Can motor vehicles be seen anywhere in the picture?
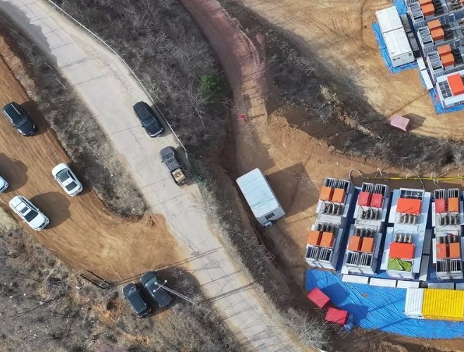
Yes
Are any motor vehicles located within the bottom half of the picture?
Yes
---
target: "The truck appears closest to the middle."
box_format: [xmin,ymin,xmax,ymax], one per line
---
[155,143,196,193]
